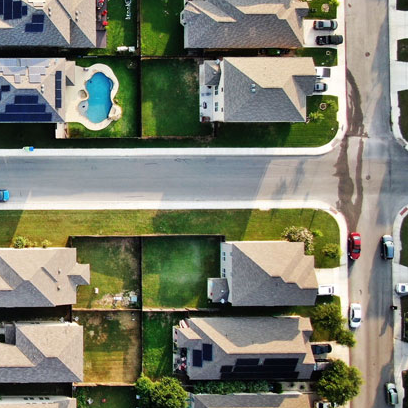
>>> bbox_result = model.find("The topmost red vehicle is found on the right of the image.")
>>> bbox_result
[347,234,359,258]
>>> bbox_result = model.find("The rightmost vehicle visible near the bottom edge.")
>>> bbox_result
[384,381,397,406]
